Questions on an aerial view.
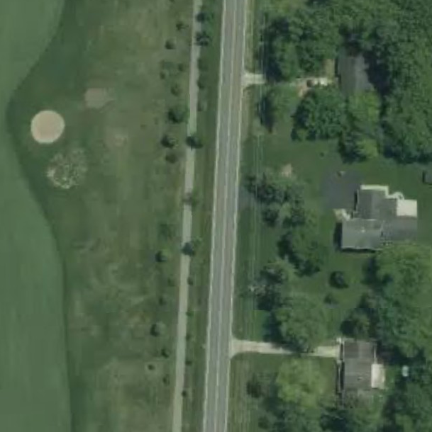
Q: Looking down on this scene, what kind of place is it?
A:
golf course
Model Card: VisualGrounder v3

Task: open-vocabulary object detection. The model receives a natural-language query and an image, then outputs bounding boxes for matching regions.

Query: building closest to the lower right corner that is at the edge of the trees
[342,341,377,392]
